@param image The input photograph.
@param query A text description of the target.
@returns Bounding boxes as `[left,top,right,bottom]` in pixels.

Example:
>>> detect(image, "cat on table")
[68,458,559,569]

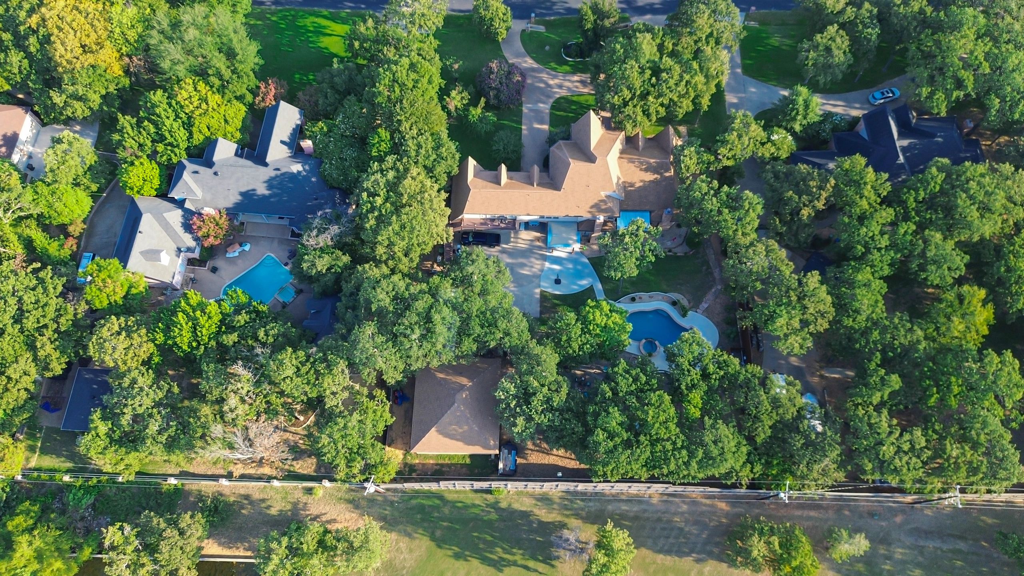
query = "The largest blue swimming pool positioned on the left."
[220,252,295,314]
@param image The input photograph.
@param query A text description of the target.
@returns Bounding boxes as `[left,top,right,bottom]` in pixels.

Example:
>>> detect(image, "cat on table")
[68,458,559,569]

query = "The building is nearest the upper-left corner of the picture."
[0,106,40,175]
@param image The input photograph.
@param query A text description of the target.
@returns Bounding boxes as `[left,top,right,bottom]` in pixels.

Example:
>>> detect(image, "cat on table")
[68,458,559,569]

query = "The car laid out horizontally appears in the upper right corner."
[867,87,902,106]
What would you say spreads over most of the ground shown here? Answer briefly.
trees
